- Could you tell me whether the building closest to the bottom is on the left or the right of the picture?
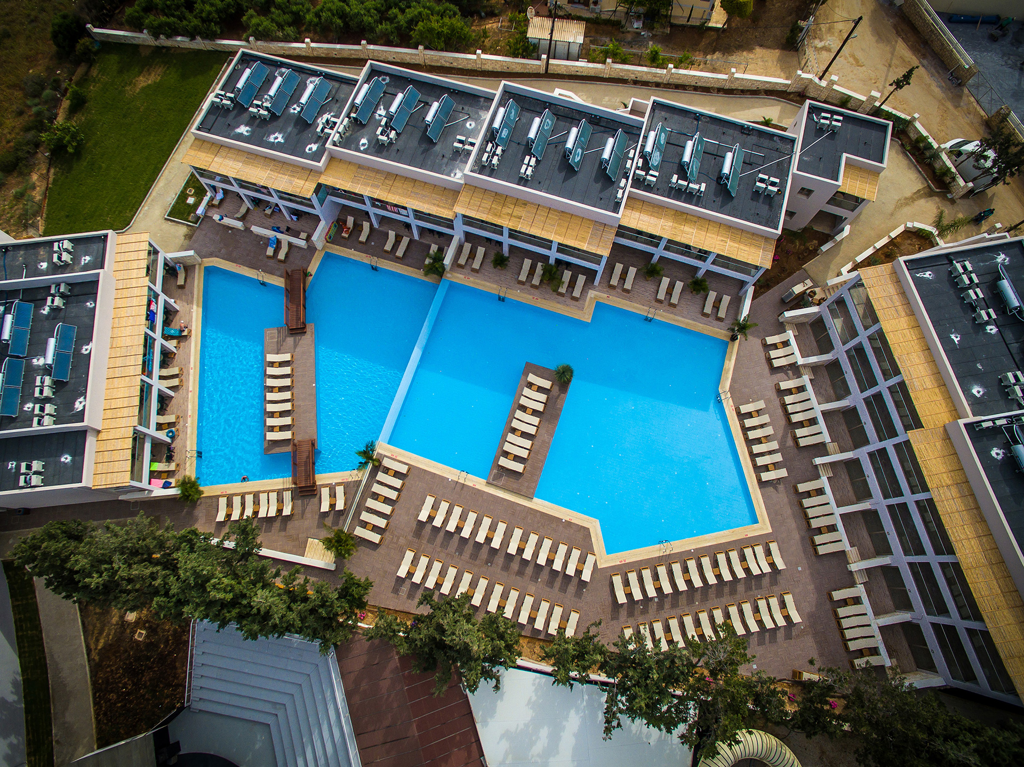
right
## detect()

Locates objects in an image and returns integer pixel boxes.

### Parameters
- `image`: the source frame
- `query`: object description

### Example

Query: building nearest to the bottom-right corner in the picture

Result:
[839,406,1024,711]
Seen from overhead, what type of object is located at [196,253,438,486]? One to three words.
swimming pool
